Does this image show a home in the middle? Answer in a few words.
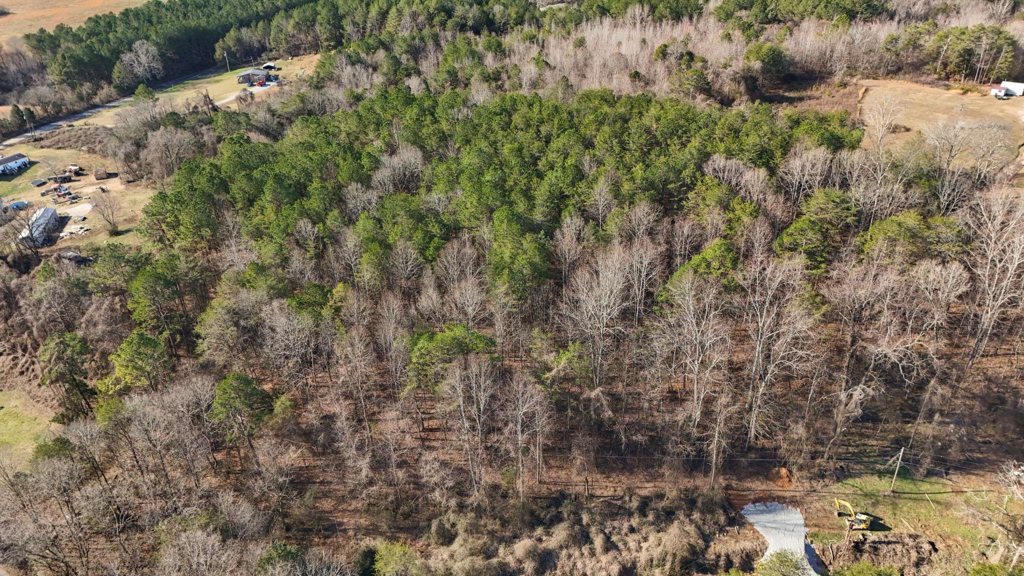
No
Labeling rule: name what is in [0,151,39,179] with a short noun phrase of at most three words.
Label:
house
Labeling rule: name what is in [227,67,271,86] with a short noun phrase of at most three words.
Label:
house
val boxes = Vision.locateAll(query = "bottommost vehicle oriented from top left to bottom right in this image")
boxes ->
[834,498,874,532]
